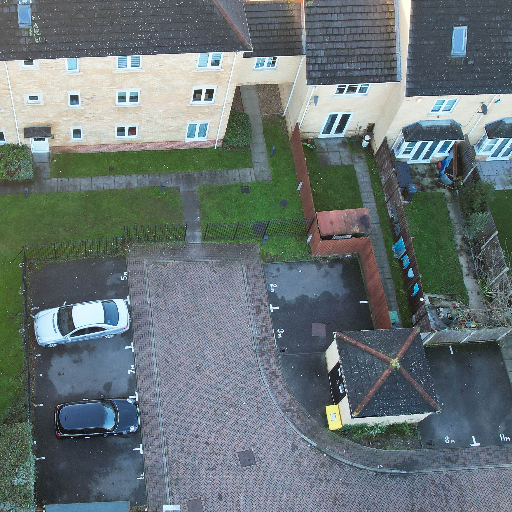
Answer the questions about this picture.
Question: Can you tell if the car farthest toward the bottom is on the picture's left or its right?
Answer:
left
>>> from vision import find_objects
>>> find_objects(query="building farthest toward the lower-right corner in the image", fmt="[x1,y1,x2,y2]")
[331,325,442,424]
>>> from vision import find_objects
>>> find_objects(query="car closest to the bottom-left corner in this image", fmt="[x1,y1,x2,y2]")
[55,392,141,442]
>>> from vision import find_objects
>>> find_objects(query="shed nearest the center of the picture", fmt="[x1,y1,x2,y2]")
[317,208,372,240]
